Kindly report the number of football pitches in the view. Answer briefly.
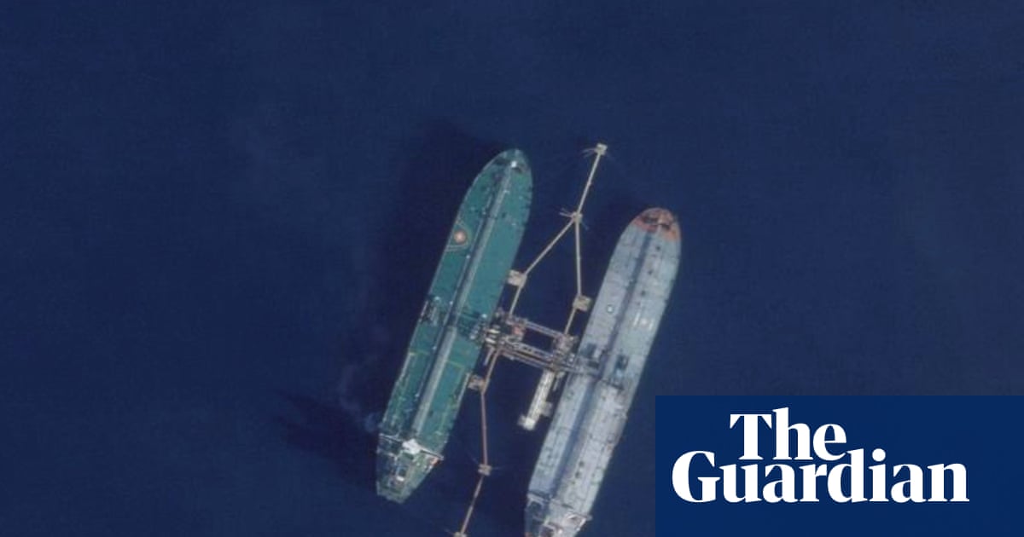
0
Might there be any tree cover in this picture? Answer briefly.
No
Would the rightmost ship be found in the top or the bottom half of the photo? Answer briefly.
bottom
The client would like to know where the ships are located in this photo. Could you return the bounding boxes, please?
[375,147,532,504]
[523,208,682,537]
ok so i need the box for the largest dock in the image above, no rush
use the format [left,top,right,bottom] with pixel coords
[519,368,554,426]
